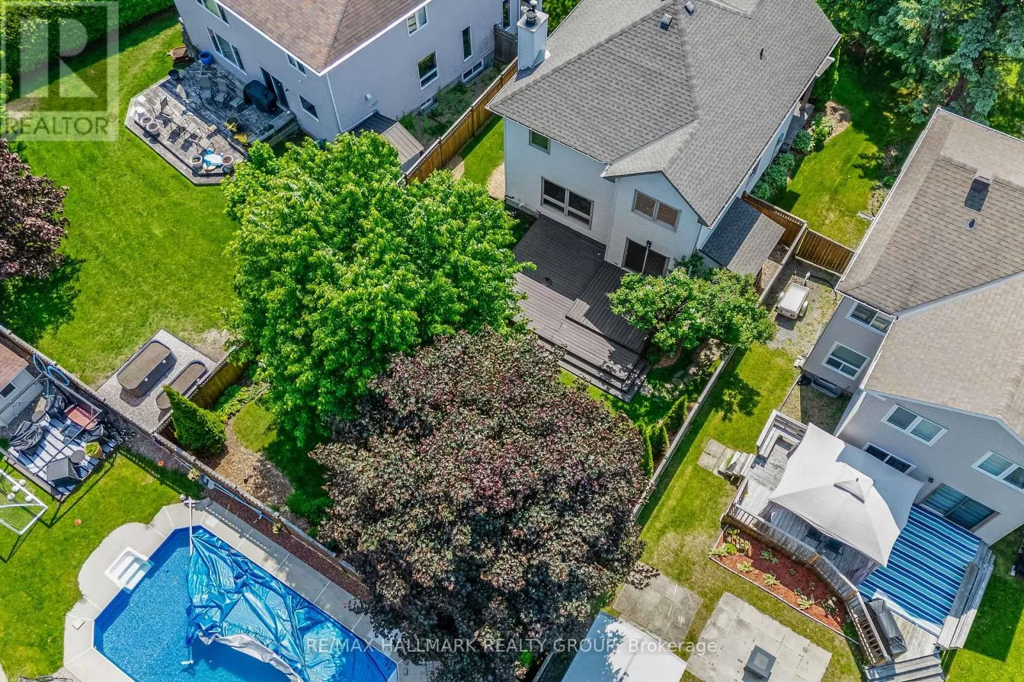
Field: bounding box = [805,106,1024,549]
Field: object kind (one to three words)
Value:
house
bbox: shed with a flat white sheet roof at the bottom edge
[561,615,686,682]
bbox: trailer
[768,273,812,324]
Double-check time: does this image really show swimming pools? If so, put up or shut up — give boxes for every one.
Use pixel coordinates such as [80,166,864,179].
[94,526,399,682]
